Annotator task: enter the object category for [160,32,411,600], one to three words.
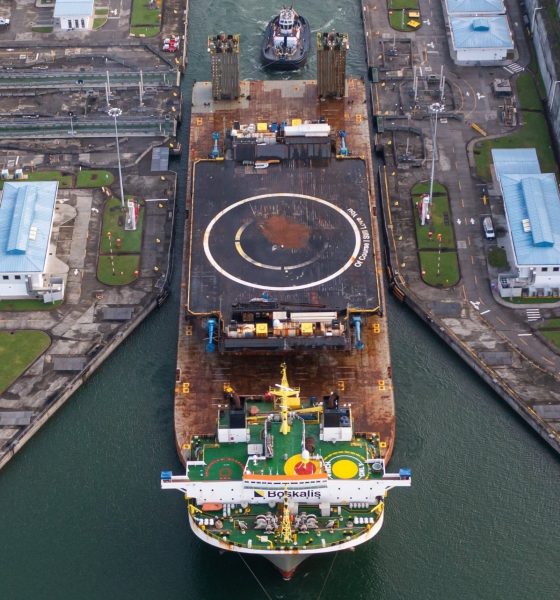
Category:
ship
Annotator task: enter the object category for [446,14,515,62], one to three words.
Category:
building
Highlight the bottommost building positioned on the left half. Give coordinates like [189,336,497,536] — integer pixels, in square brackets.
[0,181,59,305]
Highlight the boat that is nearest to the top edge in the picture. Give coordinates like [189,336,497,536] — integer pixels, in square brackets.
[257,4,310,77]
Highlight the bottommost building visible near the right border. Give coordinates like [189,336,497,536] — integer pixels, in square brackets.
[490,150,560,301]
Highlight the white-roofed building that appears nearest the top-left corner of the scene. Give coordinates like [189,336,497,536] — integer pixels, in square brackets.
[51,0,97,29]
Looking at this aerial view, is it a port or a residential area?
port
